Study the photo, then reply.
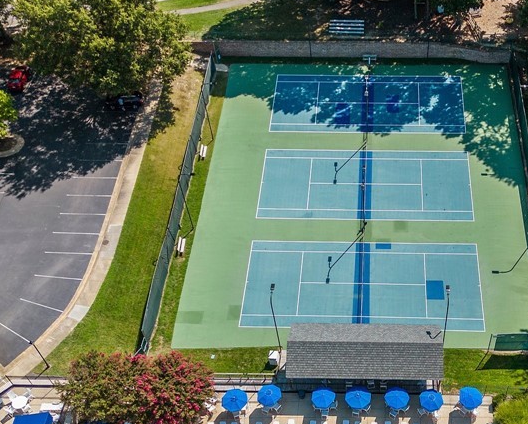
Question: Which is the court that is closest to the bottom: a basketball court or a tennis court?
tennis court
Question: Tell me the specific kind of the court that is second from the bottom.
tennis court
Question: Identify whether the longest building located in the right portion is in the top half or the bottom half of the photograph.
bottom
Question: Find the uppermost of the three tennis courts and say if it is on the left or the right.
right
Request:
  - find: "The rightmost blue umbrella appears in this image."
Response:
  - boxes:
[457,390,484,415]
